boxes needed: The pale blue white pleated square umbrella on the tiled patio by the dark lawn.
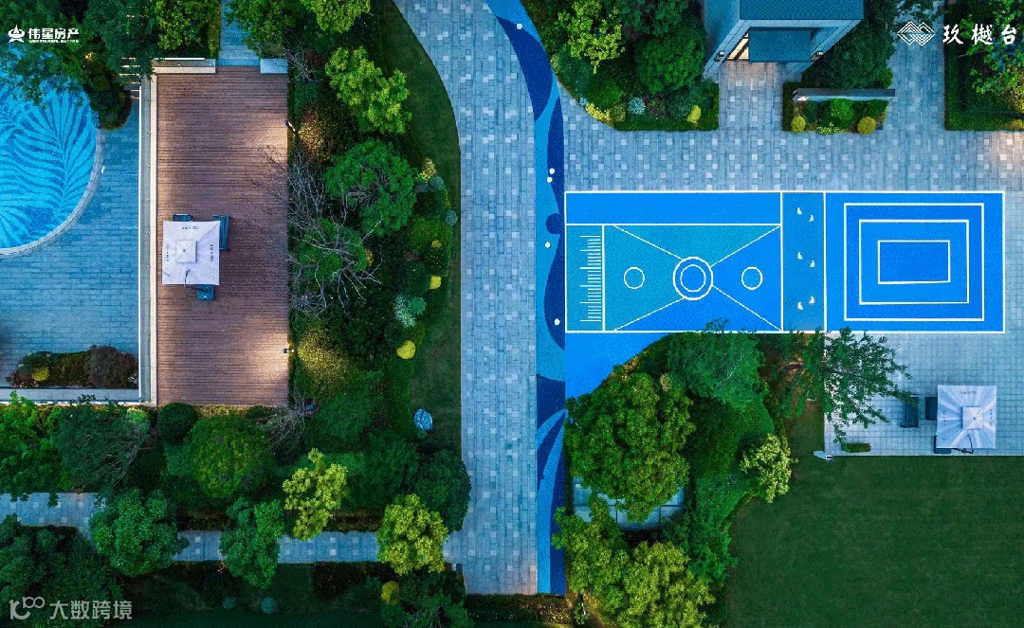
[934,386,996,453]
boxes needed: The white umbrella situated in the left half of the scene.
[161,223,222,300]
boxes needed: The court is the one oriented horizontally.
[565,191,1004,406]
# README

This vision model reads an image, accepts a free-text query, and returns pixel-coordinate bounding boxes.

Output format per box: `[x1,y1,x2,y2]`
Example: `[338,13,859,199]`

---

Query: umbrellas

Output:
[934,386,996,453]
[161,223,222,300]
